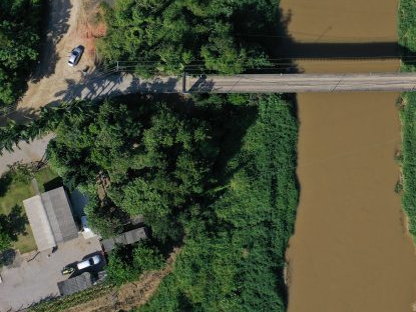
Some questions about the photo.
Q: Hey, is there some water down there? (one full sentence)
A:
Yes, there's water in this view.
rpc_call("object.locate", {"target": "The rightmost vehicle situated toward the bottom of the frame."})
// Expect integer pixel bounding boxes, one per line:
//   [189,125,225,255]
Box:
[74,256,99,272]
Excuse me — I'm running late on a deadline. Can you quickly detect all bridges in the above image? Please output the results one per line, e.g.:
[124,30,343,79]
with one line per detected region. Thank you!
[182,72,416,95]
